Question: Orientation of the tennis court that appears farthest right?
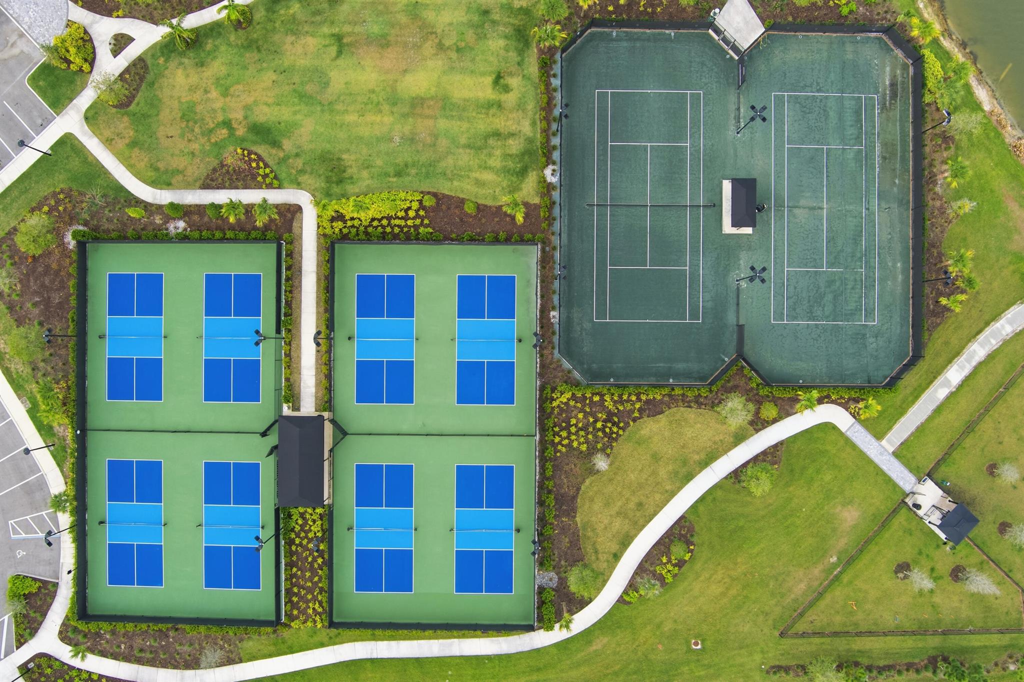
vertically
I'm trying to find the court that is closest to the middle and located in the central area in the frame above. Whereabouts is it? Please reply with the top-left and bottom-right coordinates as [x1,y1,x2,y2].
[456,274,516,406]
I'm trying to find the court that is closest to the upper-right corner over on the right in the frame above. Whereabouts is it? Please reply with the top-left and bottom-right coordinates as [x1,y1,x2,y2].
[772,92,877,323]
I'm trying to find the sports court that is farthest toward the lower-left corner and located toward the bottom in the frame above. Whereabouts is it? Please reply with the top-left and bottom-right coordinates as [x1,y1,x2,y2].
[106,459,164,588]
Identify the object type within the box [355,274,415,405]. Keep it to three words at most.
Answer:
sports court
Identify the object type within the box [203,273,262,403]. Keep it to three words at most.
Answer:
sports court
